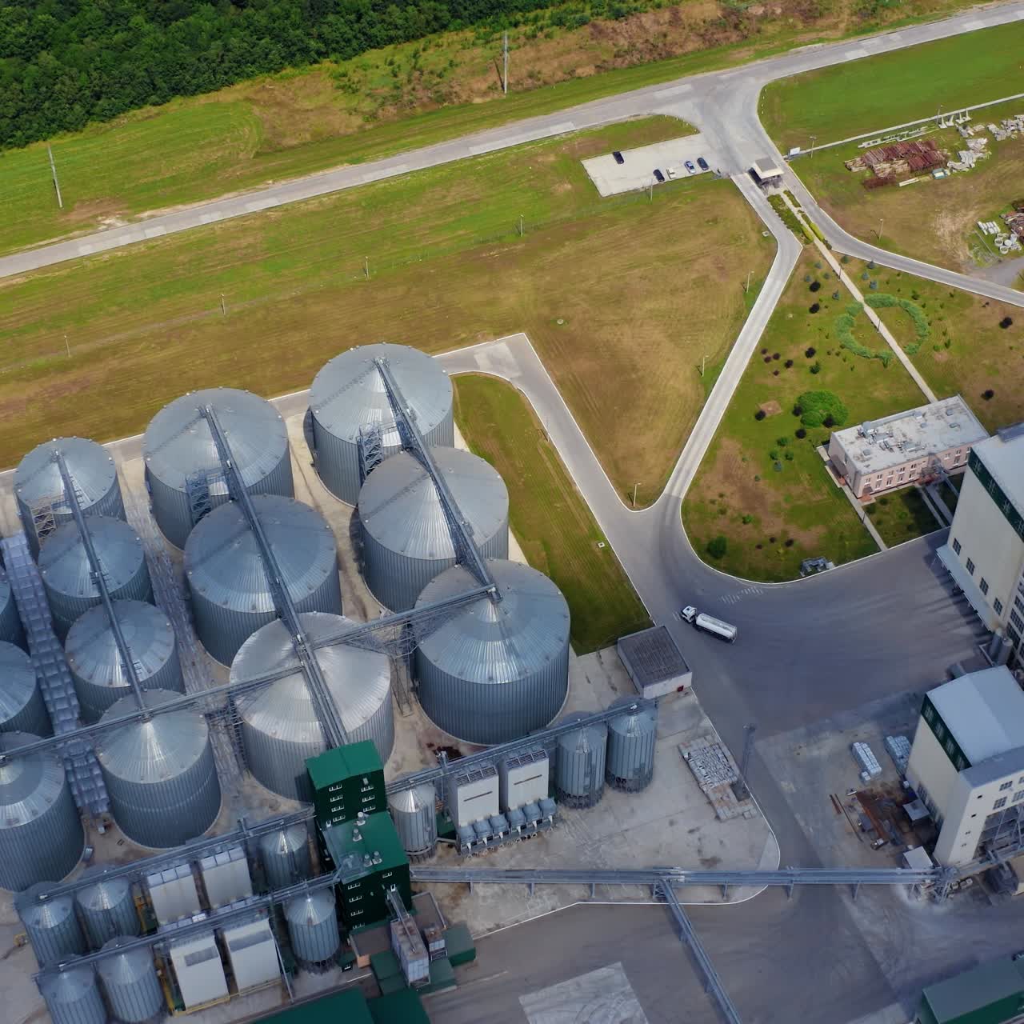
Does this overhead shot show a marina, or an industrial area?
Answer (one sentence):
It's an industrial area.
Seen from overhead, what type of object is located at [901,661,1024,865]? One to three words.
building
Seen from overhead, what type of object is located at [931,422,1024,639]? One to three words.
building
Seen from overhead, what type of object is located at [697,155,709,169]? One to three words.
vehicle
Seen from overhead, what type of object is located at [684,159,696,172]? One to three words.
vehicle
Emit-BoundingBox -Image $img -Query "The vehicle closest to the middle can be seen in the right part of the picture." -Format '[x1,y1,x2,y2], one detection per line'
[680,603,741,643]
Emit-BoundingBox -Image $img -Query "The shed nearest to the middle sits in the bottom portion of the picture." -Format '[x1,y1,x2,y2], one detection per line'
[618,623,690,697]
